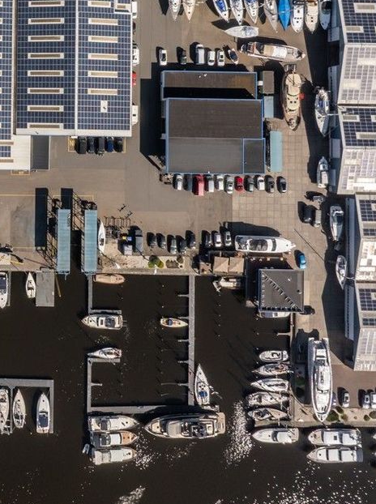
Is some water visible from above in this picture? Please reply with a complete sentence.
Yes, there's water in this view.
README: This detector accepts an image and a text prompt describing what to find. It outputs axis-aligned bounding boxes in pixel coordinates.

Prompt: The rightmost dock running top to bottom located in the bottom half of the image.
[177,275,195,405]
